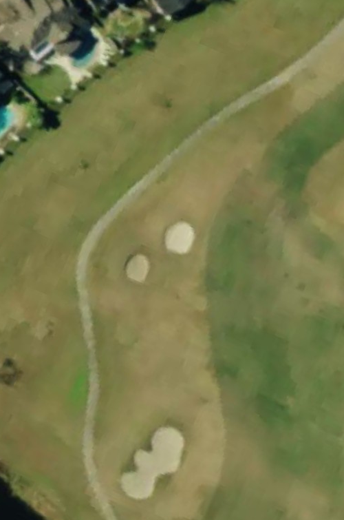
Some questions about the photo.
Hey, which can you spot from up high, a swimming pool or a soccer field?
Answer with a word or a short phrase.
swimming pool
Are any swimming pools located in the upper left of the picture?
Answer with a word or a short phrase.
Yes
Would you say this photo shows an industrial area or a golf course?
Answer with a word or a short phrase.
golf course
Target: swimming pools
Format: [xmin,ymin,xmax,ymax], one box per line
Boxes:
[0,103,17,138]
[69,16,102,68]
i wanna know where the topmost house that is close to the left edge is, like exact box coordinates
[0,0,80,58]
